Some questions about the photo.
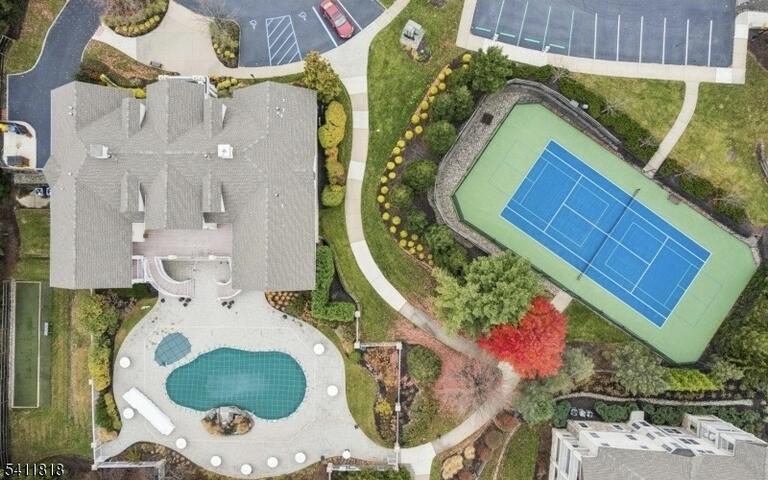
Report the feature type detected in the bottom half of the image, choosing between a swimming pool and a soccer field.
swimming pool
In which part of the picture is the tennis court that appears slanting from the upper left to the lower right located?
right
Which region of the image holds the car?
top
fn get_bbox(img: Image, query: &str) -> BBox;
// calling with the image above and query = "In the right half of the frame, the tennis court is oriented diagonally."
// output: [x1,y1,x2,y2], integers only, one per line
[454,103,757,364]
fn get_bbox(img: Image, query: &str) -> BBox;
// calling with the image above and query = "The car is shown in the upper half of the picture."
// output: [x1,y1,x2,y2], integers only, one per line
[321,0,352,35]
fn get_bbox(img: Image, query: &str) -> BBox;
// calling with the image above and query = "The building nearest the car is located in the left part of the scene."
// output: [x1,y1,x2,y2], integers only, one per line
[44,76,320,301]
